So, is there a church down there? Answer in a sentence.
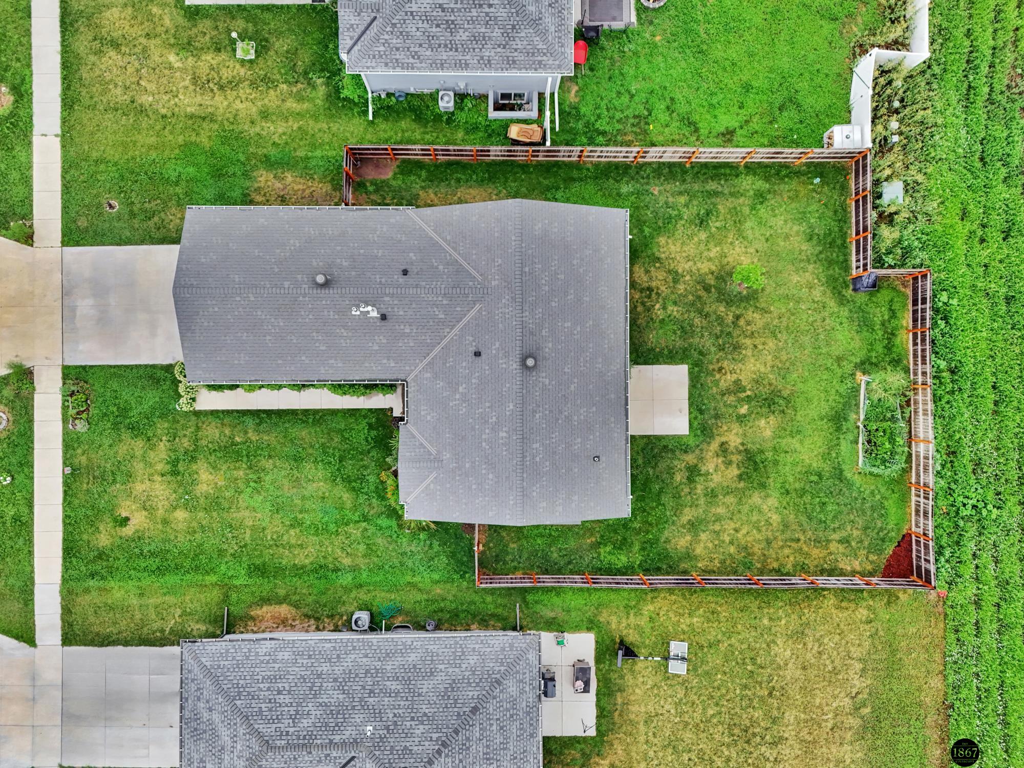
No, there appears to be no church in this shot.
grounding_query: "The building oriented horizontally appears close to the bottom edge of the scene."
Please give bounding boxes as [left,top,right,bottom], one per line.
[177,607,543,768]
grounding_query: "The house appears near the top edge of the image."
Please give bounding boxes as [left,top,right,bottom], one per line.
[336,0,575,130]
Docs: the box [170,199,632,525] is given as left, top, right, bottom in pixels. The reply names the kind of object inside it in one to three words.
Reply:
house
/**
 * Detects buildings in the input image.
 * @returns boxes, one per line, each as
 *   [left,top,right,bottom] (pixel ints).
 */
[336,0,575,130]
[177,607,543,768]
[170,199,632,525]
